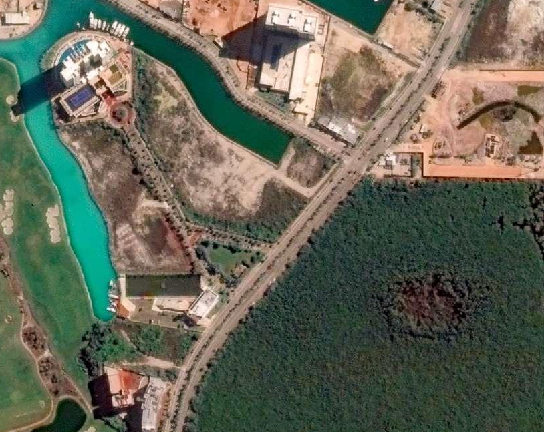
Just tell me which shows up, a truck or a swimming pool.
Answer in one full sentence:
Looking from above, you can make out a swimming pool.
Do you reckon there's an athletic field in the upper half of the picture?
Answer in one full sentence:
No, no athletic field appears in the upper half of the picture.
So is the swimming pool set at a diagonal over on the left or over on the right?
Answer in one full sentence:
You can find the swimming pool set at a diagonal on the left side of the picture.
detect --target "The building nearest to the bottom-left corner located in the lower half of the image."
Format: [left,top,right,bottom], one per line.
[105,367,148,409]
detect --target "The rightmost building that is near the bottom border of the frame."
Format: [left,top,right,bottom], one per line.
[142,379,169,431]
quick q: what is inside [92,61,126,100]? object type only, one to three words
building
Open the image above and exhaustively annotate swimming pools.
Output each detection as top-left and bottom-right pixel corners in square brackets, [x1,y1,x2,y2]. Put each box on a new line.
[270,47,281,70]
[53,36,105,68]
